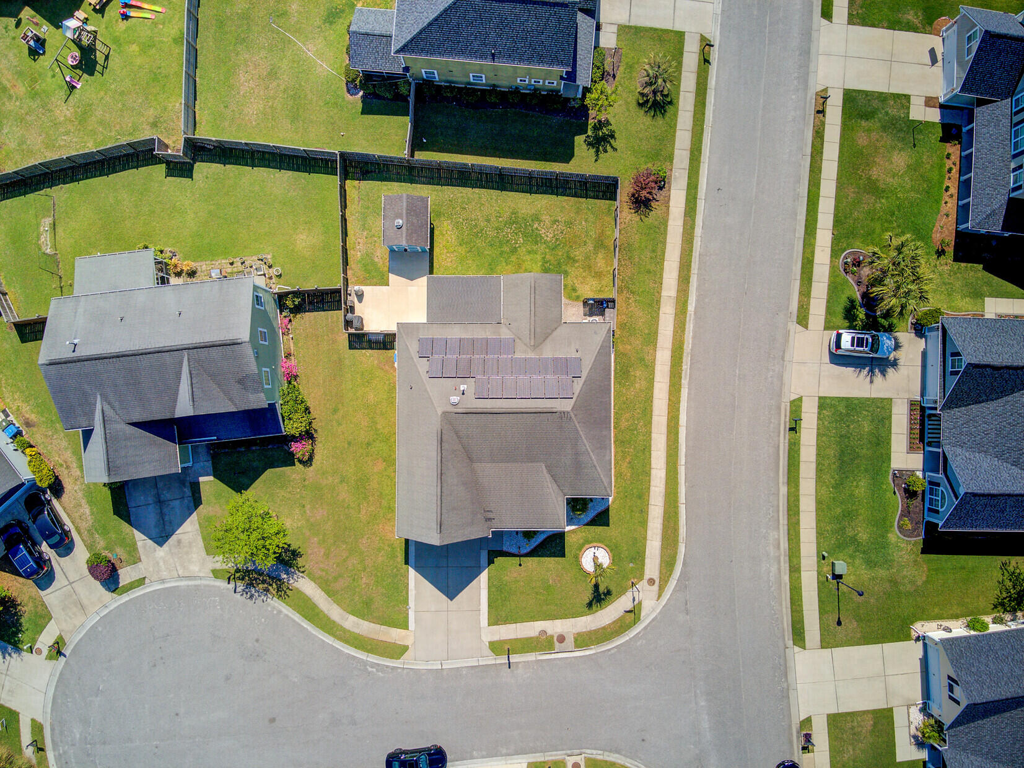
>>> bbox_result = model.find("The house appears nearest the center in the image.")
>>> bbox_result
[396,272,613,546]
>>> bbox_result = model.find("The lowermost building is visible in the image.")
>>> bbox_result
[912,620,1024,768]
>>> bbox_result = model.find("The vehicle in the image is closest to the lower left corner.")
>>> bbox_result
[0,519,49,581]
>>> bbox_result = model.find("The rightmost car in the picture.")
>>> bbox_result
[828,329,892,359]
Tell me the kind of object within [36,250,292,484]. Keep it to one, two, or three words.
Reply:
house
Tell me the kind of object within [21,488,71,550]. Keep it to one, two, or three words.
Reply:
car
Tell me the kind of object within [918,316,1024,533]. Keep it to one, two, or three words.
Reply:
house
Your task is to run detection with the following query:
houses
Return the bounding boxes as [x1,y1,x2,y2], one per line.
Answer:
[396,272,613,546]
[350,0,599,99]
[936,5,1024,235]
[36,250,292,484]
[912,620,1024,768]
[918,316,1024,533]
[0,417,43,510]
